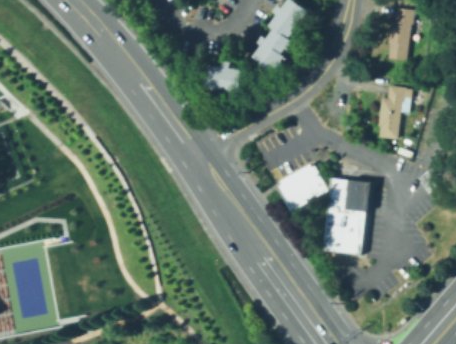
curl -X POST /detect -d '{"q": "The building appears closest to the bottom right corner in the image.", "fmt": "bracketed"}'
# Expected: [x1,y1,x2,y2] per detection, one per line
[324,178,370,255]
